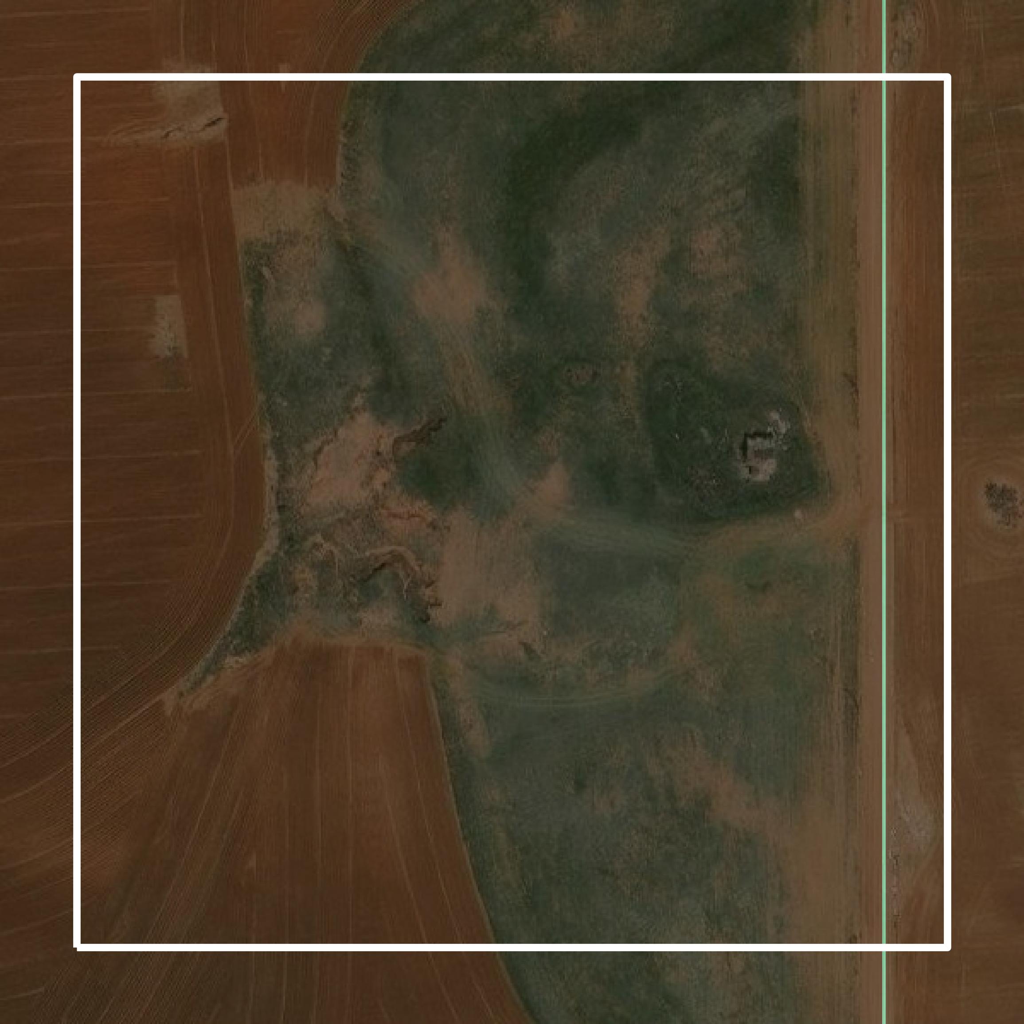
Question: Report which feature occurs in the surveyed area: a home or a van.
home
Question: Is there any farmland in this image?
Yes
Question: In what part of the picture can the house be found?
right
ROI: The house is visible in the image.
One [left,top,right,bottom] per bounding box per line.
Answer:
[736,437,777,482]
